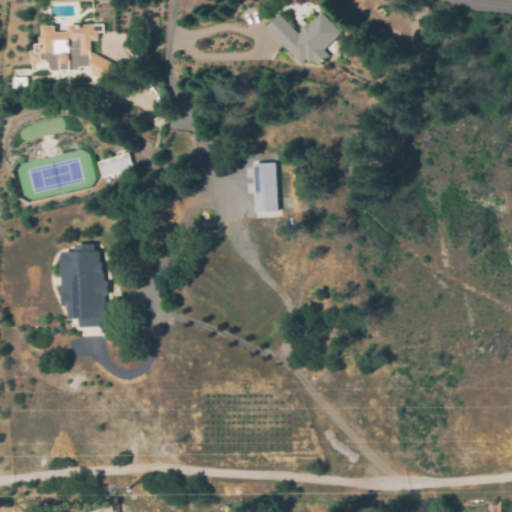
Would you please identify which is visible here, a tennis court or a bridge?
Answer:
tennis court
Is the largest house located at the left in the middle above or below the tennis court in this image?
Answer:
below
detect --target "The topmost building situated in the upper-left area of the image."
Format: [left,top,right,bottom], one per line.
[29,23,112,76]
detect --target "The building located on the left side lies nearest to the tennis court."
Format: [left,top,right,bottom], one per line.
[98,154,132,176]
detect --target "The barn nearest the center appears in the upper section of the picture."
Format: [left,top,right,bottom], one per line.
[254,160,283,216]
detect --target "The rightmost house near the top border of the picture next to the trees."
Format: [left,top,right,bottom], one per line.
[266,13,339,62]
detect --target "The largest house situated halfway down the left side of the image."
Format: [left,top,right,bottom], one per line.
[60,244,107,326]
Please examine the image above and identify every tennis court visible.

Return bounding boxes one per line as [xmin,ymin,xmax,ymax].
[19,150,97,200]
